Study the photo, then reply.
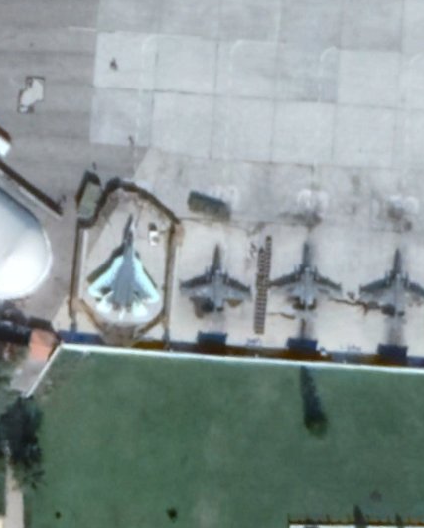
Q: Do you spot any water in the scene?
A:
No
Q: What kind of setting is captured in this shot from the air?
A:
airport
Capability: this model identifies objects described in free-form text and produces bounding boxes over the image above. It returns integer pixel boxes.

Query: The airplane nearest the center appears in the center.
[181,244,253,314]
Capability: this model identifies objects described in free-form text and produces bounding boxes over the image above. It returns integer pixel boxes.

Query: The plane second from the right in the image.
[272,248,344,314]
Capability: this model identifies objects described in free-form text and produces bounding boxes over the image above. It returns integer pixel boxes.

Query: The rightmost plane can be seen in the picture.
[361,252,424,317]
